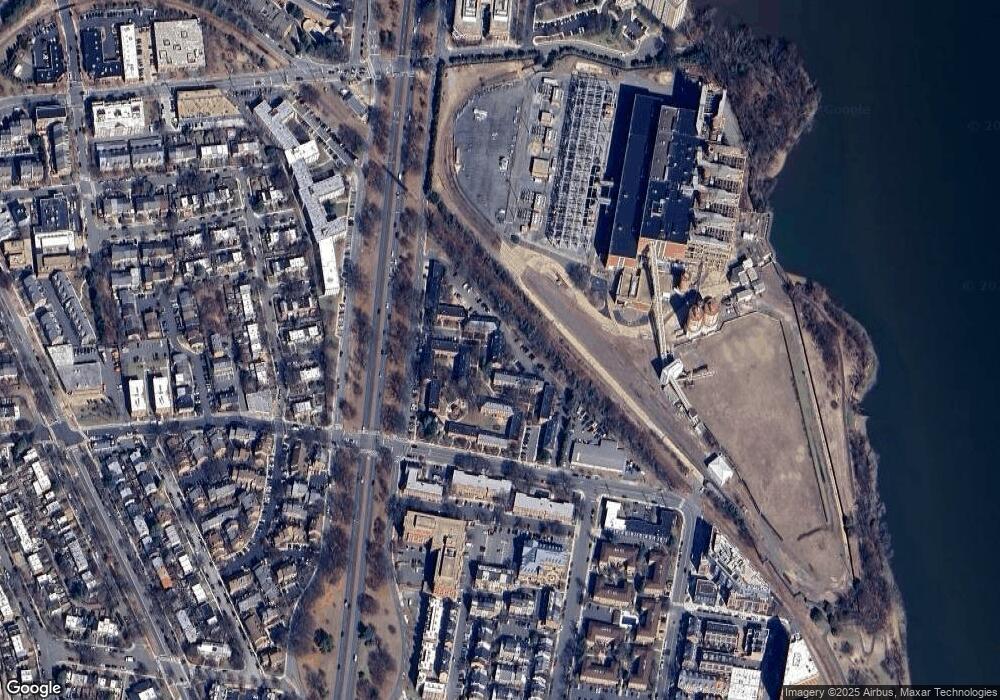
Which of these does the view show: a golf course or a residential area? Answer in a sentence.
This image shows a residential area.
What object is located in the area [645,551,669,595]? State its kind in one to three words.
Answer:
house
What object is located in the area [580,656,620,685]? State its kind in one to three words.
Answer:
house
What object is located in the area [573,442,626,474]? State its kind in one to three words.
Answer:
building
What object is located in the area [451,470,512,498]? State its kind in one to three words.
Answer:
building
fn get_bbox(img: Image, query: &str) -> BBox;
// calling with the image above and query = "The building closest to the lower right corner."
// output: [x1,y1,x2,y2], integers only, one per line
[782,635,824,700]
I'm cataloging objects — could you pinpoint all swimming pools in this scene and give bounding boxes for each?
[620,614,638,629]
